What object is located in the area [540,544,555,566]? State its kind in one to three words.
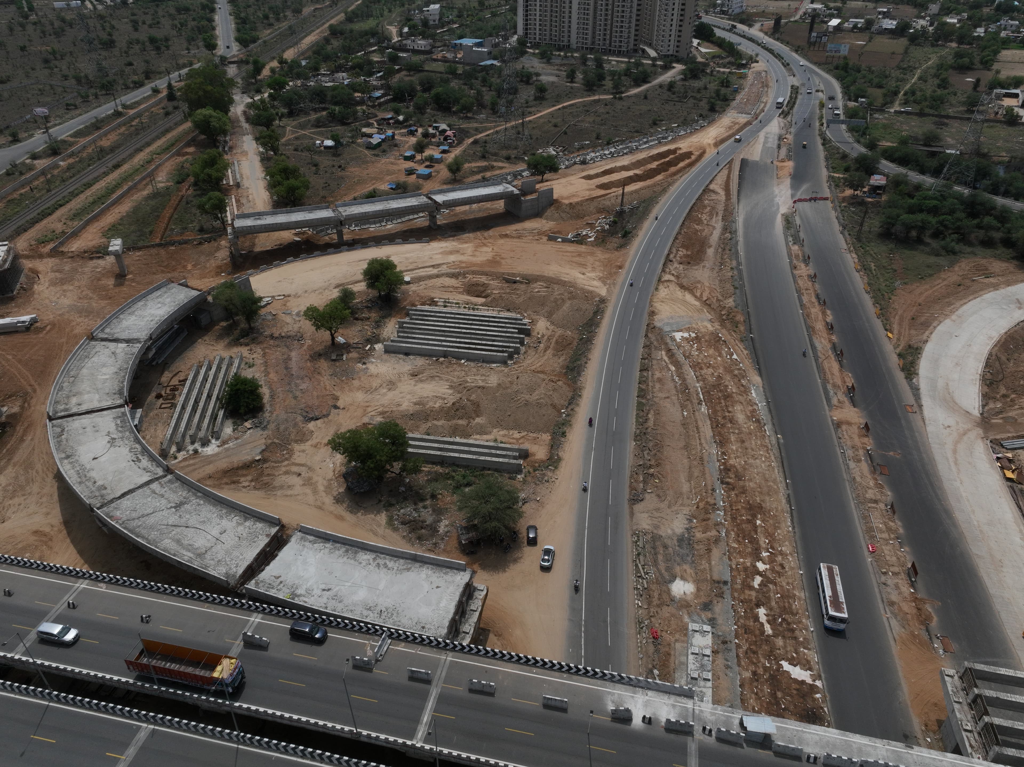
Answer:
car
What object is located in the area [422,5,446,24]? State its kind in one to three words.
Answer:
house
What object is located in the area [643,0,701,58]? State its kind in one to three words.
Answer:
building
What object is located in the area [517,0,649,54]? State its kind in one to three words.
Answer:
building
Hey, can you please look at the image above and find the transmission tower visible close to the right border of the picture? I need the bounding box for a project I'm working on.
[922,65,1003,194]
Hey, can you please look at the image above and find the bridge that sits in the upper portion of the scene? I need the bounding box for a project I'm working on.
[234,181,514,258]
